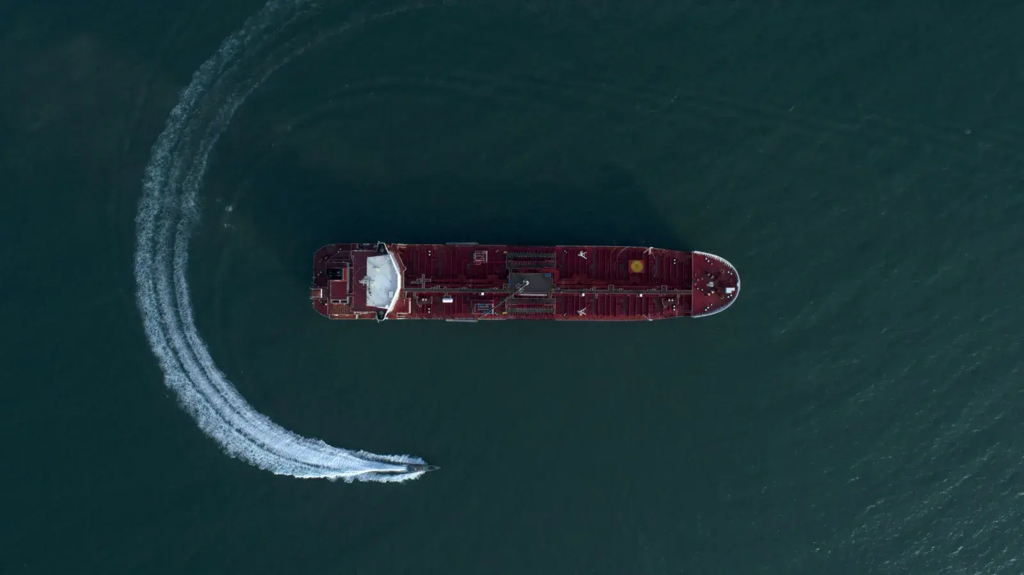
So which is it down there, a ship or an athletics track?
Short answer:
ship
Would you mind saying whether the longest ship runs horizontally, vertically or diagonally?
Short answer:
horizontally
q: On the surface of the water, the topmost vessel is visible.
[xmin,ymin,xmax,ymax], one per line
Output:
[310,242,740,323]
